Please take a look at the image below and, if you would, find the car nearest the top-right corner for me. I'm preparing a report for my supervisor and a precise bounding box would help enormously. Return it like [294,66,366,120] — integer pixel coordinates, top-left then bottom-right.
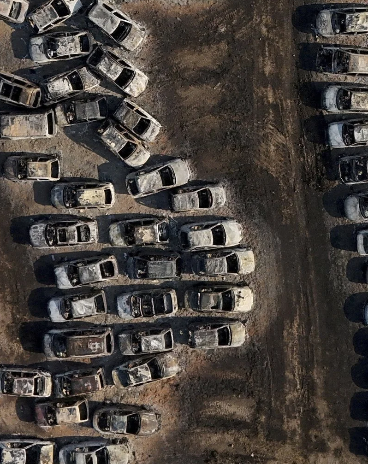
[315,6,368,36]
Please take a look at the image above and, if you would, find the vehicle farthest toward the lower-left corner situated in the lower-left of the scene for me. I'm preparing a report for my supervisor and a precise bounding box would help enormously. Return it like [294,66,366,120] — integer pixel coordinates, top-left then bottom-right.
[0,438,59,464]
